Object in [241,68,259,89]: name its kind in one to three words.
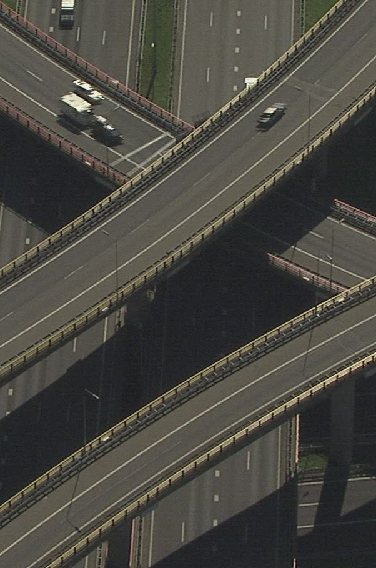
car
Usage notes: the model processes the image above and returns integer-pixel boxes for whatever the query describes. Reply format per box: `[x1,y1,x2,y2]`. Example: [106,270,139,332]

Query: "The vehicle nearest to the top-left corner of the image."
[57,0,76,26]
